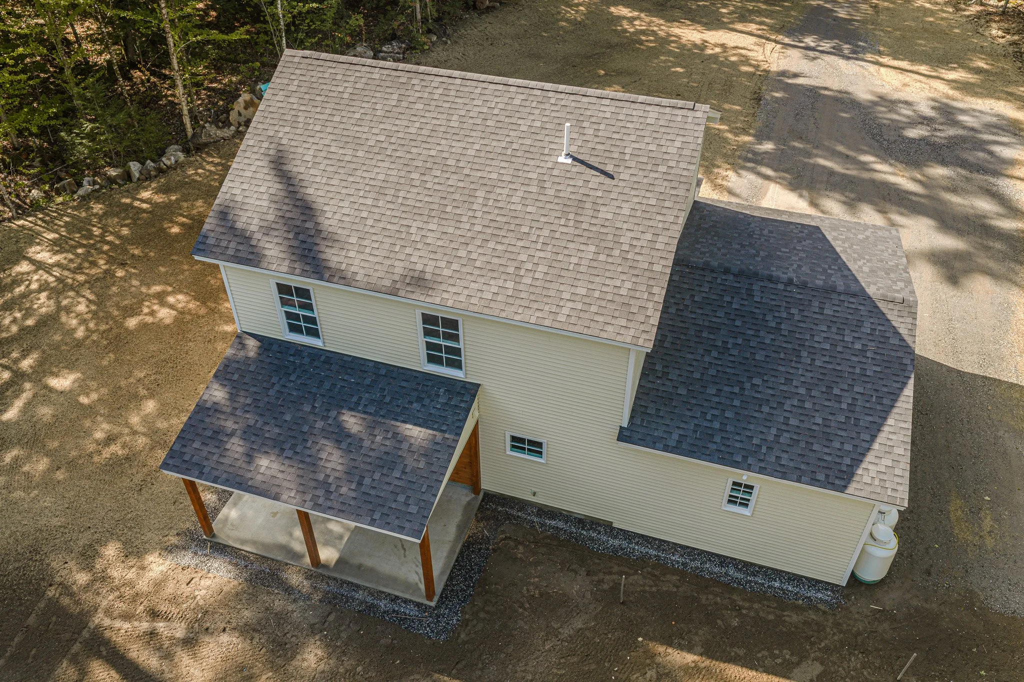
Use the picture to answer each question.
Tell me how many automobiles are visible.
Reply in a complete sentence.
The picture shows no automobiles.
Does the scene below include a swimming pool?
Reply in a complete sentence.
No, I can't see a single swimming pool in this photo.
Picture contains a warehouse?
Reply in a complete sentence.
No, there isn't any warehouse down there.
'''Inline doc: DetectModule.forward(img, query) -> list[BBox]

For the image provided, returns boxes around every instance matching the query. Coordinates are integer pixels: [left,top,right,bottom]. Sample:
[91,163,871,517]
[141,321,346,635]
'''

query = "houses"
[159,48,918,609]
